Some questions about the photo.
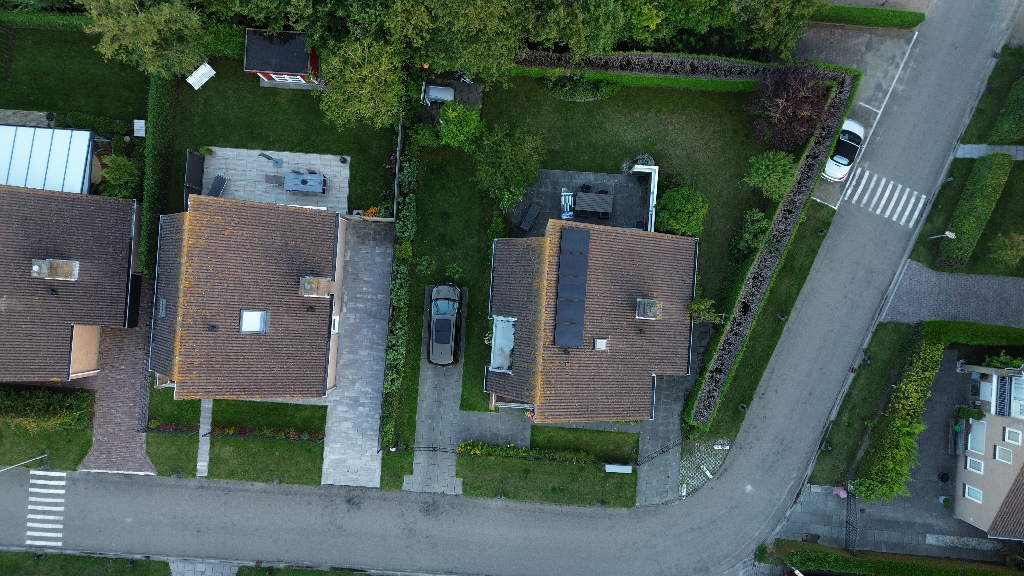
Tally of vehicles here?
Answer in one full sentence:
Altogether the scene contains 2 vehicles.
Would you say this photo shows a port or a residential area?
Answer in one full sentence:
It's a residential area.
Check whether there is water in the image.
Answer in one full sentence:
No, the scene doesn't show any water.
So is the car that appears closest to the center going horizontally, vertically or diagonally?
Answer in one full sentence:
Seen from above, the car that appears closest to the center lies vertically.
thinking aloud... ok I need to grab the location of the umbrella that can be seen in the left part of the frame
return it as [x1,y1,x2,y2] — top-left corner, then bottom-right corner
[260,153,282,167]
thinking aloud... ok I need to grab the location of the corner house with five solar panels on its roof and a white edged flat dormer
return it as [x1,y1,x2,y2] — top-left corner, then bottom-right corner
[482,219,701,423]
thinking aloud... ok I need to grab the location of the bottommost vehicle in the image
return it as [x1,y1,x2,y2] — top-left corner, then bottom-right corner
[424,283,465,367]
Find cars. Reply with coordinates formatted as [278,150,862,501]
[820,118,867,186]
[424,283,465,367]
